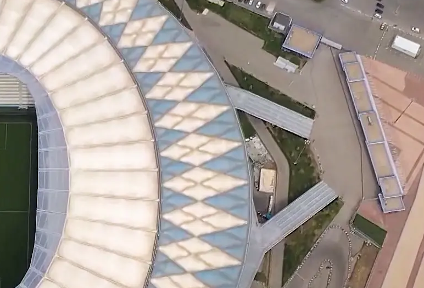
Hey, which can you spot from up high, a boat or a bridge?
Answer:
bridge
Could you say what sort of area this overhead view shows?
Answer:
sports ground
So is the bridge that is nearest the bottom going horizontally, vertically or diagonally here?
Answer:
diagonally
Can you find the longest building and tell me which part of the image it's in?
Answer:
right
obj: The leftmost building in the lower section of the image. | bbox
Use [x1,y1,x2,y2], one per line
[258,168,276,196]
